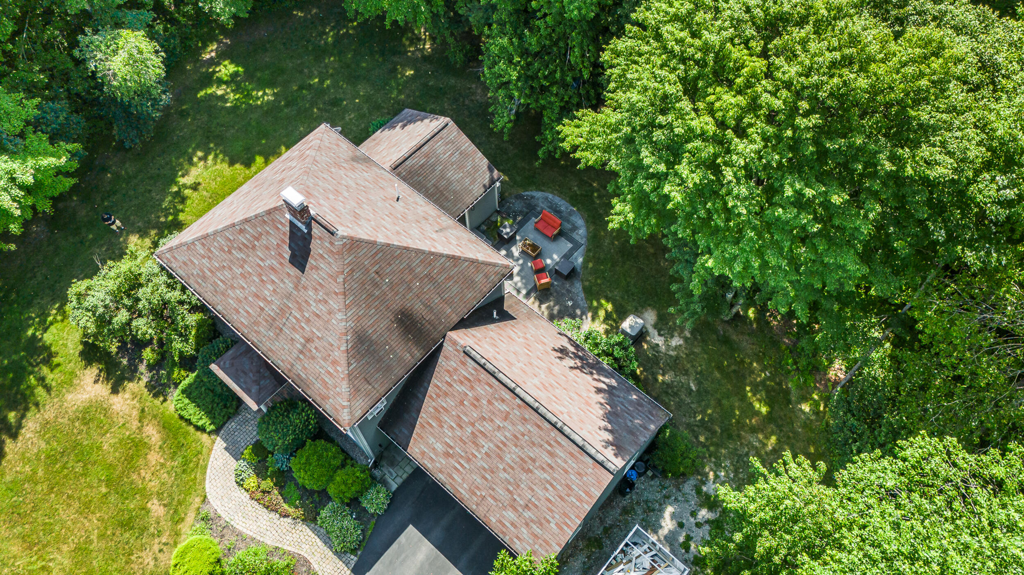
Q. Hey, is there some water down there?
No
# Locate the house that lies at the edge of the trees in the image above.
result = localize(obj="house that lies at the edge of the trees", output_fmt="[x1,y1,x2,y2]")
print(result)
[155,109,673,575]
